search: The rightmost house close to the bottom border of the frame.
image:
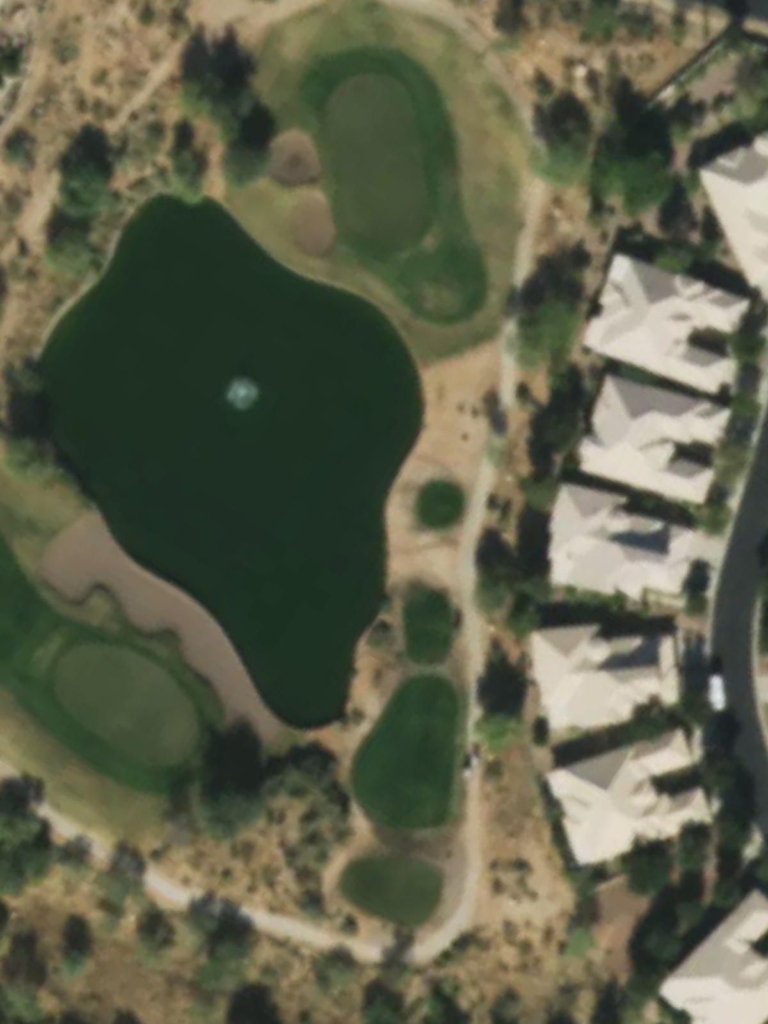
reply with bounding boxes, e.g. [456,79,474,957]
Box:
[661,890,768,1024]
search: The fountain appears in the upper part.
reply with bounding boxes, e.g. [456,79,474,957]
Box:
[224,374,259,409]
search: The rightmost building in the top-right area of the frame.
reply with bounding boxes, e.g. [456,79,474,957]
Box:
[702,130,768,288]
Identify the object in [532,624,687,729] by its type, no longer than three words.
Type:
house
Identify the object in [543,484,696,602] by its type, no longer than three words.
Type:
house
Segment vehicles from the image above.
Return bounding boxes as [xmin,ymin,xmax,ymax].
[462,766,471,783]
[708,676,726,710]
[470,754,479,770]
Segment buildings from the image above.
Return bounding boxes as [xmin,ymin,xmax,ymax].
[581,374,731,504]
[547,731,713,868]
[532,624,687,729]
[661,890,768,1024]
[584,254,749,395]
[702,130,768,288]
[543,484,696,602]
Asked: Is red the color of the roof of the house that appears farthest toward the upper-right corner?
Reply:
No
